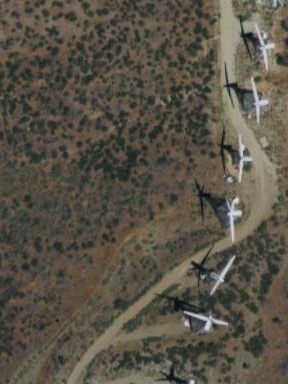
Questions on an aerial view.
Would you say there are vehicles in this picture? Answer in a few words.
No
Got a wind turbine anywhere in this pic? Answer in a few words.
Yes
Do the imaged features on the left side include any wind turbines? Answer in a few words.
No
